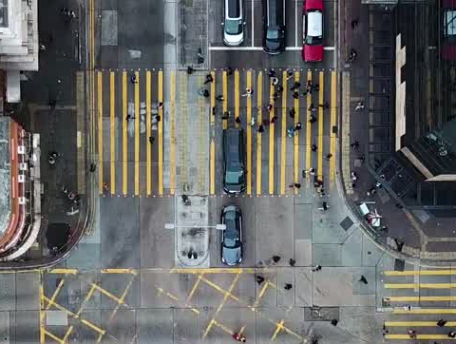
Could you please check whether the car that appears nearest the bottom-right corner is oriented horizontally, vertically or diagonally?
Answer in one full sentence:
The car that appears nearest the bottom-right corner is laid out vertically.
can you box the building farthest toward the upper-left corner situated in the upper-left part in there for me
[0,0,59,82]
